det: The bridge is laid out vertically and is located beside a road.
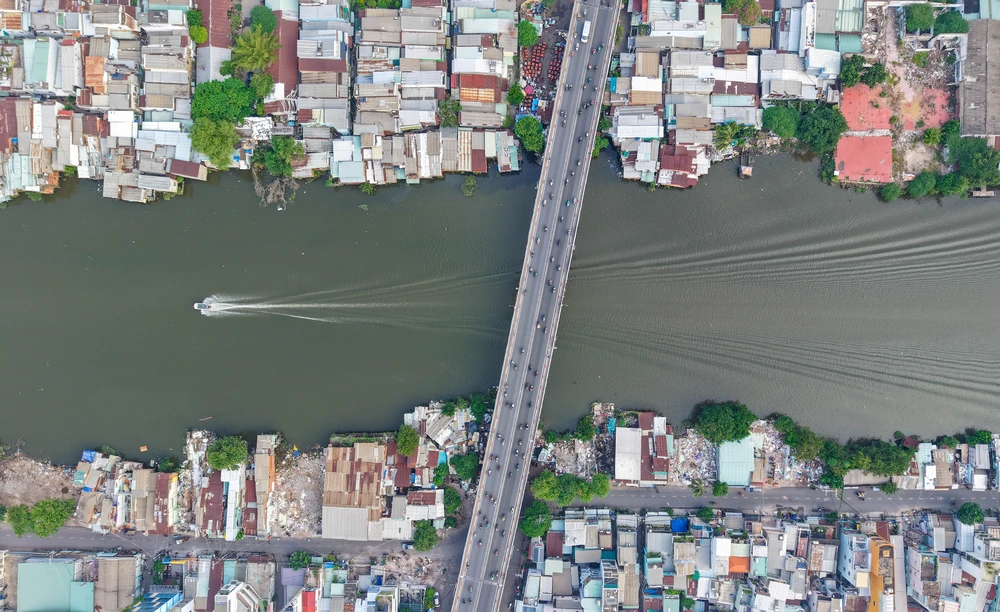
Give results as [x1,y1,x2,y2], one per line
[450,0,622,612]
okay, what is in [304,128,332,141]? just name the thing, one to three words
house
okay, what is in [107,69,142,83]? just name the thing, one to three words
house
